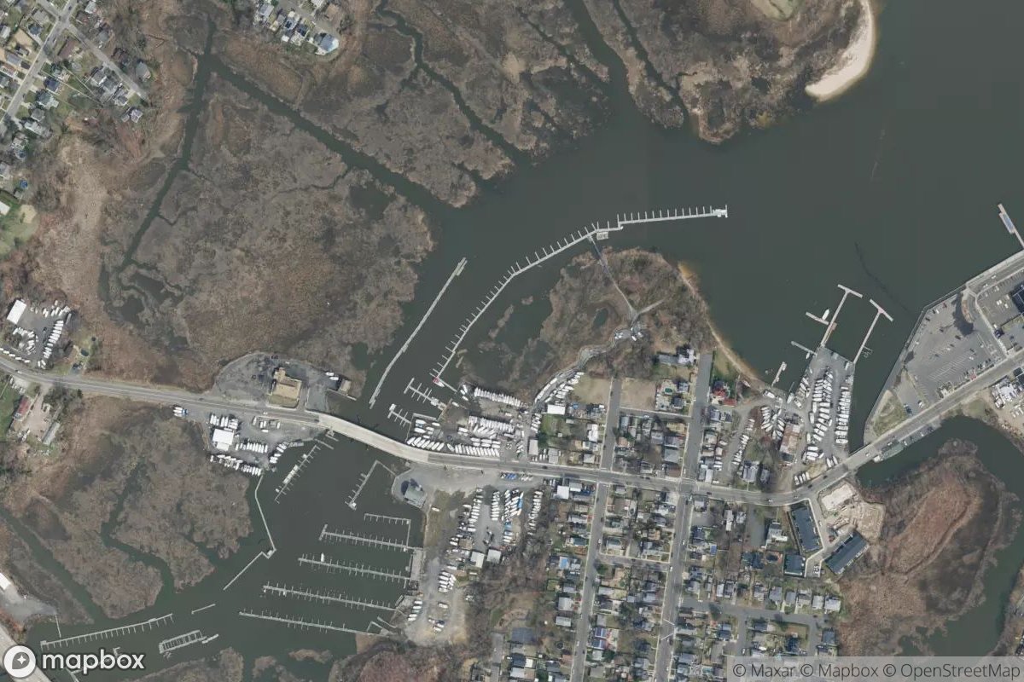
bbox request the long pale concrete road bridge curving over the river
[318,411,431,464]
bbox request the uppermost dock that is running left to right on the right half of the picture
[617,204,727,227]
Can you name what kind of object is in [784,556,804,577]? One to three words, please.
building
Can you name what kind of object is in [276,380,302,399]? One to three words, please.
building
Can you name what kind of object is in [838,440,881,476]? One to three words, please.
bridge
